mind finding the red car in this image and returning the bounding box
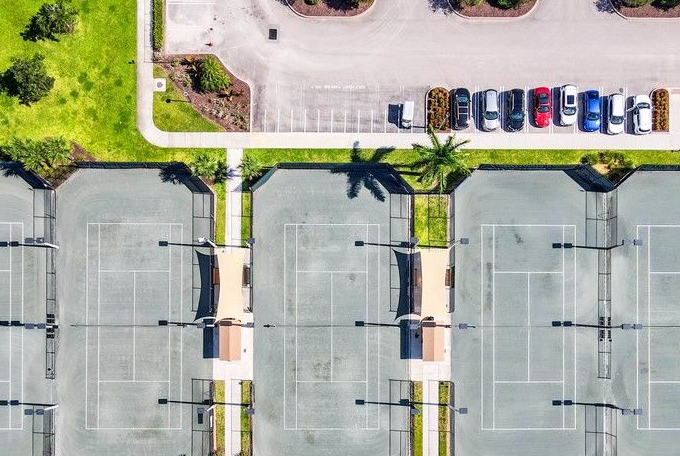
[534,87,554,126]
